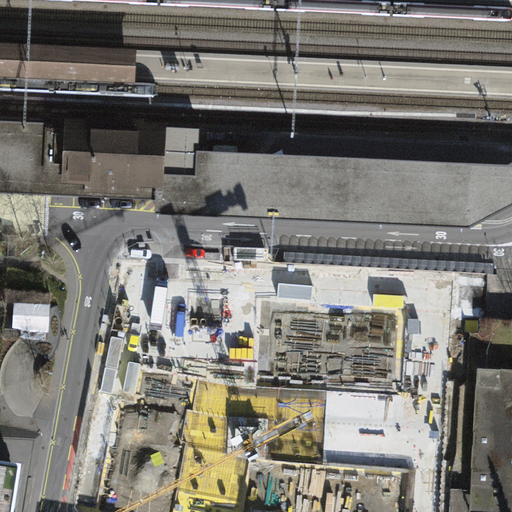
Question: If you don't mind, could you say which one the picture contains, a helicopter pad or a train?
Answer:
train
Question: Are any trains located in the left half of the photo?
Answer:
Yes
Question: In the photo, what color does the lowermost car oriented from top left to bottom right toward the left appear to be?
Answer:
black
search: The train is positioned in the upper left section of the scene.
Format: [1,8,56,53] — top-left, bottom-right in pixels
[0,78,155,102]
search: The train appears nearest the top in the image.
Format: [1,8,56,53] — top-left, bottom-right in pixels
[25,0,511,21]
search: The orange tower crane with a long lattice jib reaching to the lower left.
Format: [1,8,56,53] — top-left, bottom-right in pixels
[111,405,314,512]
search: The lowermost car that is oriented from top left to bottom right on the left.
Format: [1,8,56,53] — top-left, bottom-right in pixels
[61,226,81,250]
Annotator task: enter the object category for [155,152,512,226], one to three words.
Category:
building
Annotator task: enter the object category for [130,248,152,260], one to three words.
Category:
vehicle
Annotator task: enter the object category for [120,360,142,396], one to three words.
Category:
building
